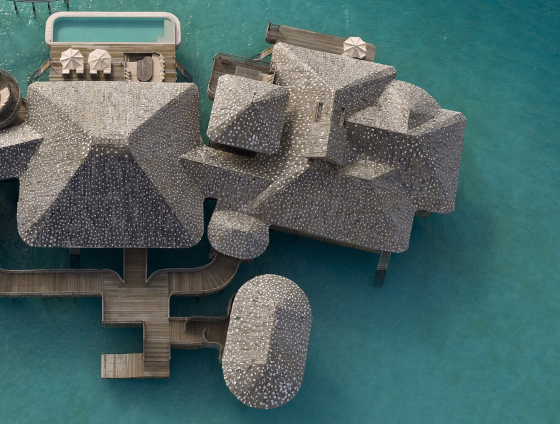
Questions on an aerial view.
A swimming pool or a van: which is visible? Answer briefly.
swimming pool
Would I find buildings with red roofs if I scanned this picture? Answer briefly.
No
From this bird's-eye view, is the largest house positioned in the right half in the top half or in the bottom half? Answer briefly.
top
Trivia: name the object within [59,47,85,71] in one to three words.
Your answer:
umbrella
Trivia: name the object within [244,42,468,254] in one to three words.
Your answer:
house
